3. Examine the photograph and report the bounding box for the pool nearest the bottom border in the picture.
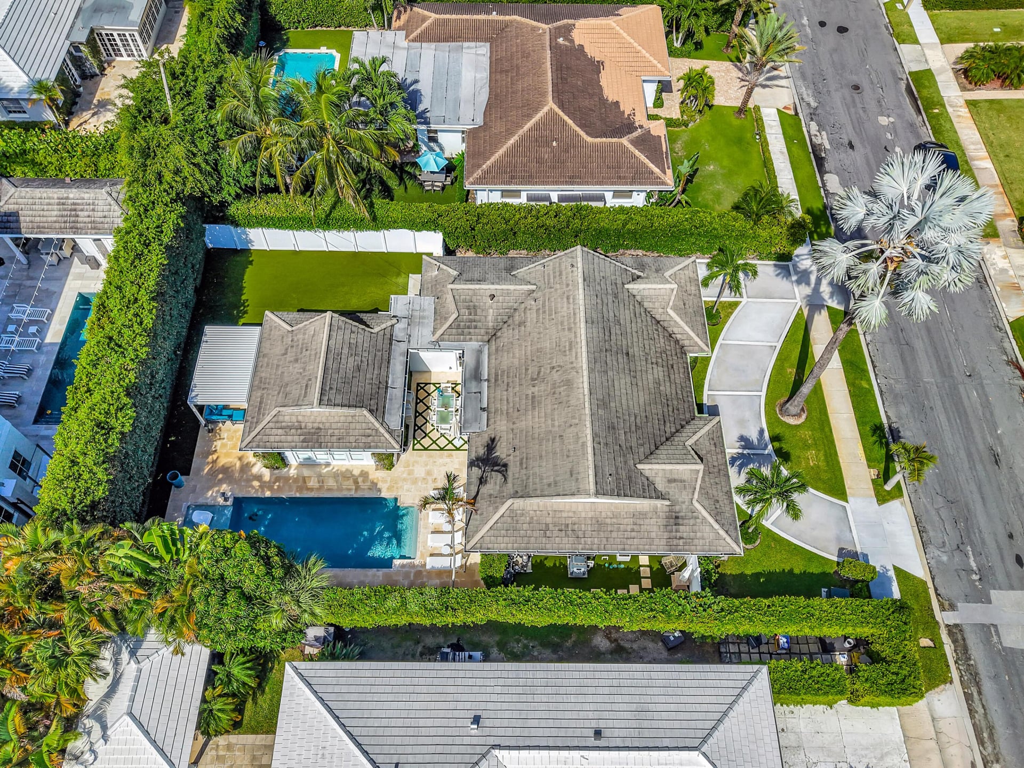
[176,492,423,572]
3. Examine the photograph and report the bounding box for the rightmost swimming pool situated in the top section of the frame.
[256,46,343,128]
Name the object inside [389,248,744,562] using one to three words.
house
